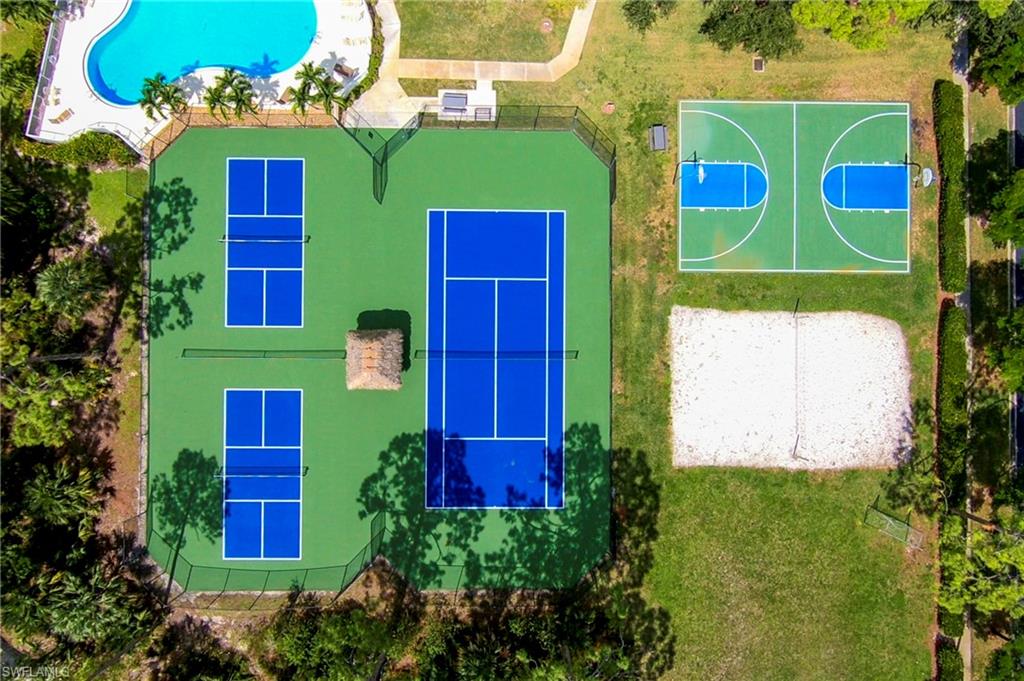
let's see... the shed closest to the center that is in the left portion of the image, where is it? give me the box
[345,329,403,391]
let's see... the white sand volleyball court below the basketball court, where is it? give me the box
[668,302,915,472]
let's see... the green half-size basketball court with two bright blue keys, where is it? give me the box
[679,100,911,273]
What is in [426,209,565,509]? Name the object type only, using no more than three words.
tennis court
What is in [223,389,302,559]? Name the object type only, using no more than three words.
sports court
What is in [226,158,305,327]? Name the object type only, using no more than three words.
sports court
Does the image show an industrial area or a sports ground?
sports ground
